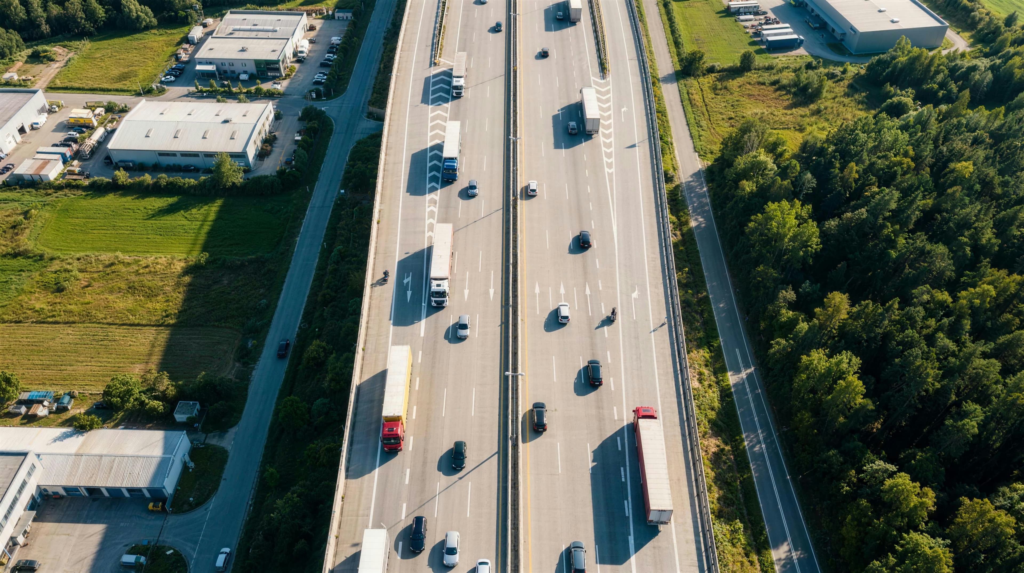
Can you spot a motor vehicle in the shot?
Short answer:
Yes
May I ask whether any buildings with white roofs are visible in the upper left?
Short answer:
Yes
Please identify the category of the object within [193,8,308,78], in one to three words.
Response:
building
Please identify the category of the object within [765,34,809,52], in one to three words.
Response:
vehicle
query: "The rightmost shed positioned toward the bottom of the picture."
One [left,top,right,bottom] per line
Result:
[173,400,202,424]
